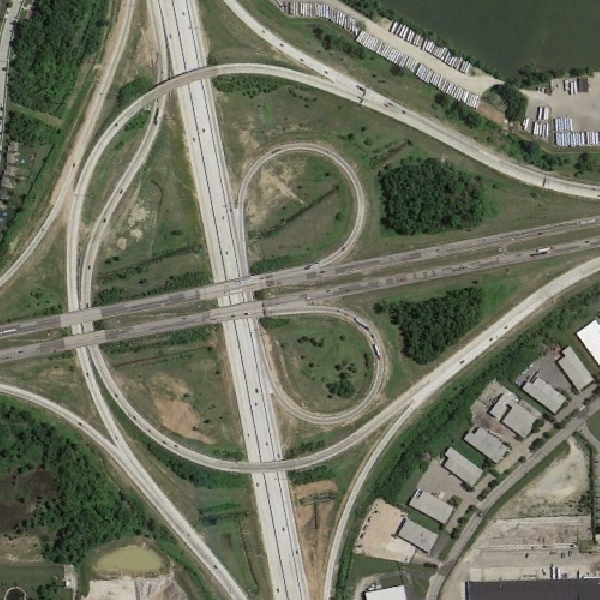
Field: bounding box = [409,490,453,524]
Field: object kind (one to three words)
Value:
building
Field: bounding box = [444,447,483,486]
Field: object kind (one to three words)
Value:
building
